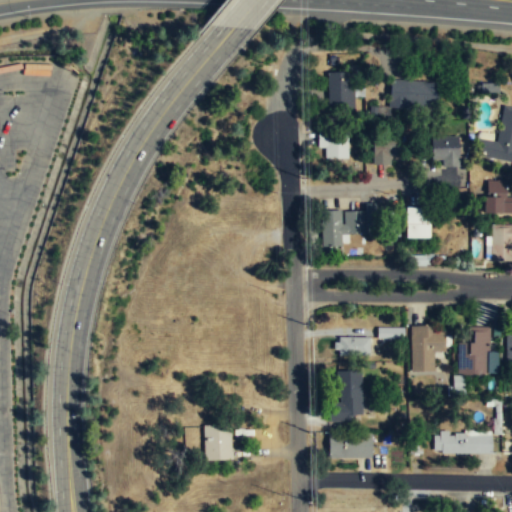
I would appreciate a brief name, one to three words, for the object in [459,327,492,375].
house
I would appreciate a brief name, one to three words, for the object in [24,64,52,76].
shed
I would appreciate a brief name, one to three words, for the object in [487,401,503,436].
shed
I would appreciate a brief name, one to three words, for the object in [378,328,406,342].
house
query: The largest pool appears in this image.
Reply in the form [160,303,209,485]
[478,102,492,132]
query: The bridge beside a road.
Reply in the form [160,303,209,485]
[210,0,288,31]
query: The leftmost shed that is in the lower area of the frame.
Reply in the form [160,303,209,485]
[184,427,201,448]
